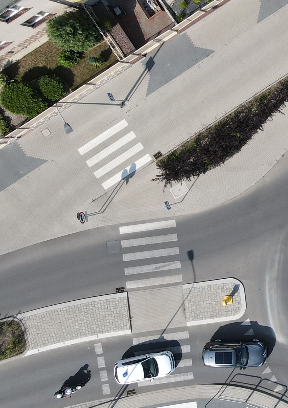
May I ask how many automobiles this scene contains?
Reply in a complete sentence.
I count 2 automobiles.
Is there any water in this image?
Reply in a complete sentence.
No, water can't be seen anywhere here.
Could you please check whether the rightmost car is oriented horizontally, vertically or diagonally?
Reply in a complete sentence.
The rightmost car runs horizontally in the image.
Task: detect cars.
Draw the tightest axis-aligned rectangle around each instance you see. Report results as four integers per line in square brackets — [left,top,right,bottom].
[114,348,178,381]
[200,337,270,371]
